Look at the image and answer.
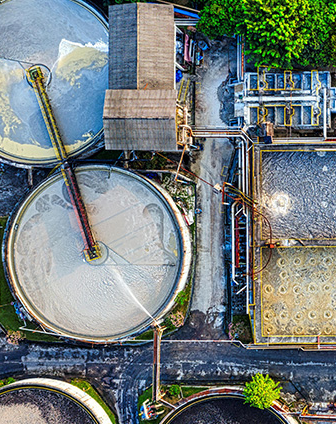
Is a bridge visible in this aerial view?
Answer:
Yes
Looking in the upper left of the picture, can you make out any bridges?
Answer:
Yes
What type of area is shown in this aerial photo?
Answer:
industrial area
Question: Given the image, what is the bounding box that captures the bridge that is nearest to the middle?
[61,162,97,255]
